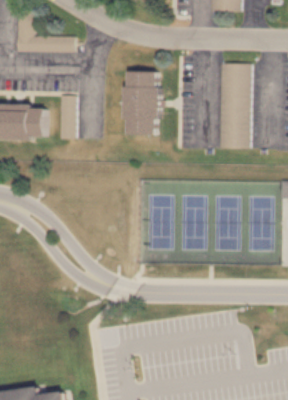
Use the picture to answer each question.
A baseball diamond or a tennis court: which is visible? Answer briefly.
tennis court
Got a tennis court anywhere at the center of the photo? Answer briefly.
Yes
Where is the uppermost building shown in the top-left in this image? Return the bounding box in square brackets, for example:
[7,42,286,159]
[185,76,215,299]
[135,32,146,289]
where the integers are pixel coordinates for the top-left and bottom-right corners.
[18,6,78,52]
